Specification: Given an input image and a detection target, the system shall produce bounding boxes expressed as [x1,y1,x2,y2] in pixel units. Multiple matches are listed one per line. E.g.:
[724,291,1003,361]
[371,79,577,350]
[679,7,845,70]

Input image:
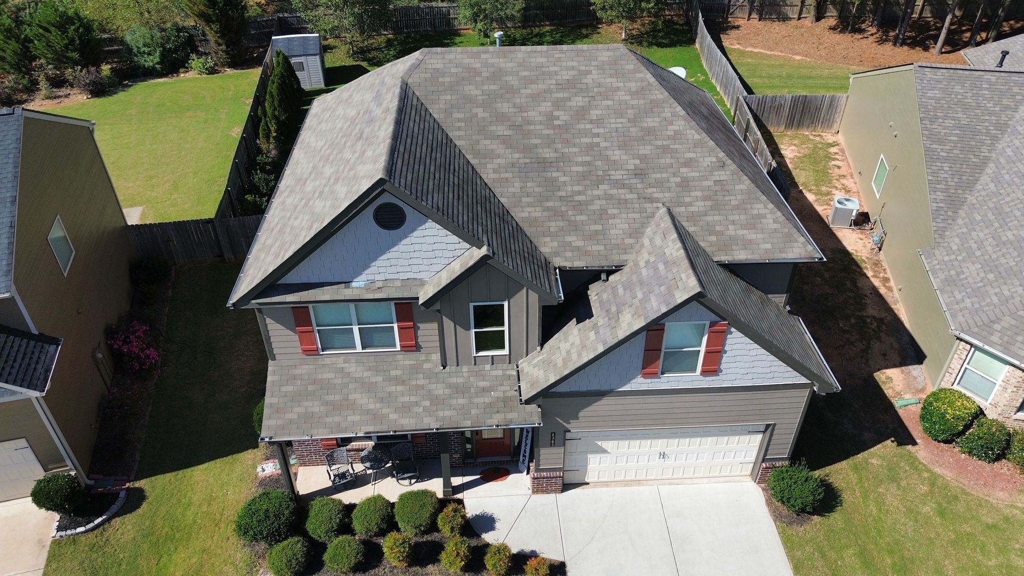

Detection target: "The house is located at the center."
[221,28,846,503]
